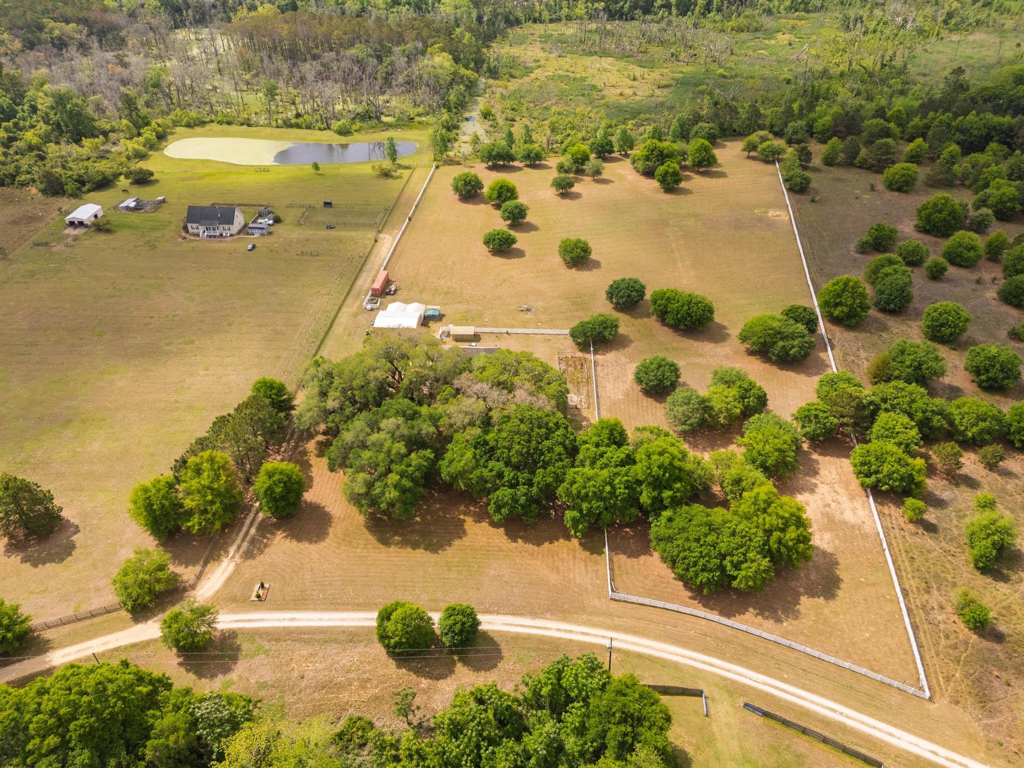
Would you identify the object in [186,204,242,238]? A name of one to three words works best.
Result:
house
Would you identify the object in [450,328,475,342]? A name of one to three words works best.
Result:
shed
